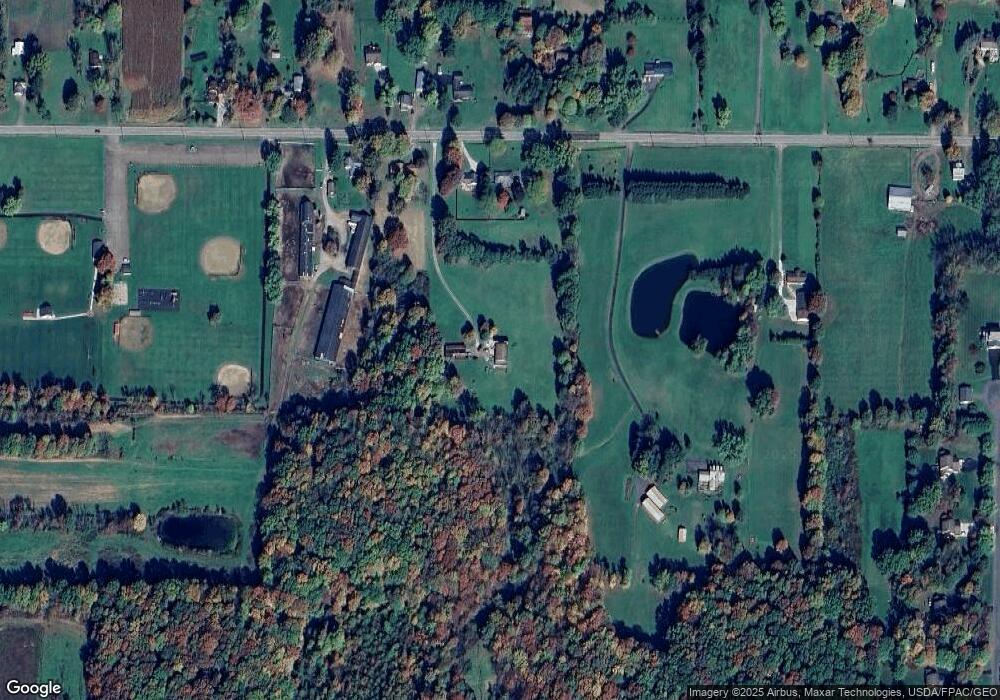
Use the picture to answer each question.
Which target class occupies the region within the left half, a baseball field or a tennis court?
baseball field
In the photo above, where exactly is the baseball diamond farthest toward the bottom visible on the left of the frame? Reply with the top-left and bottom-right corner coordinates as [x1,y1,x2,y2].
[217,363,252,396]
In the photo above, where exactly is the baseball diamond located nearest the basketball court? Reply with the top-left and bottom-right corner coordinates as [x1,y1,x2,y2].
[118,315,153,351]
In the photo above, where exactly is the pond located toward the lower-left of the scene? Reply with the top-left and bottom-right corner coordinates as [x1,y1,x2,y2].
[158,514,240,553]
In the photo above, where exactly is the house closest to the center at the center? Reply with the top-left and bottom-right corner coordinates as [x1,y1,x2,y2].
[495,342,509,366]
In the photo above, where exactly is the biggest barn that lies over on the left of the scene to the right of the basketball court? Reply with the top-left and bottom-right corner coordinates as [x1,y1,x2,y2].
[314,283,361,363]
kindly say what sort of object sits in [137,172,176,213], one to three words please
baseball field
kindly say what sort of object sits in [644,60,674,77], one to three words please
house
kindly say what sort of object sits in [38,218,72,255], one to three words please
baseball field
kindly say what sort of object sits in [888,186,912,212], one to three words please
barn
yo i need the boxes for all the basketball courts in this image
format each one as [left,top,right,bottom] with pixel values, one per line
[138,289,179,310]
